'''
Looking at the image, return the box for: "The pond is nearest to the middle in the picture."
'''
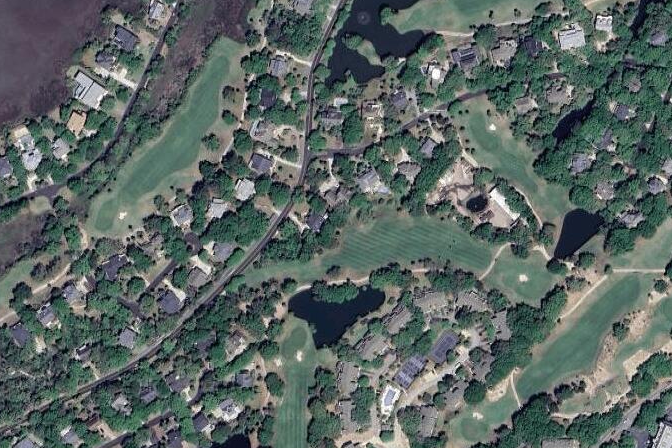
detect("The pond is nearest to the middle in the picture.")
[287,283,386,349]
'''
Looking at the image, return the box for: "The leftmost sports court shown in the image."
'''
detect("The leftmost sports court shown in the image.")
[394,350,425,385]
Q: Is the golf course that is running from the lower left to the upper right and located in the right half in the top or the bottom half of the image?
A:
bottom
